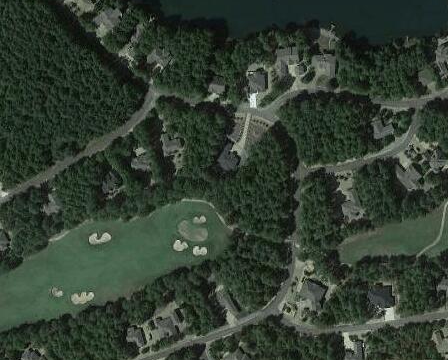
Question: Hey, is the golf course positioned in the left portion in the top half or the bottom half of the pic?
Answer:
bottom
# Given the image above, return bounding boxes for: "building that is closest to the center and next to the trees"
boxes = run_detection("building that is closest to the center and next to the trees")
[216,143,242,172]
